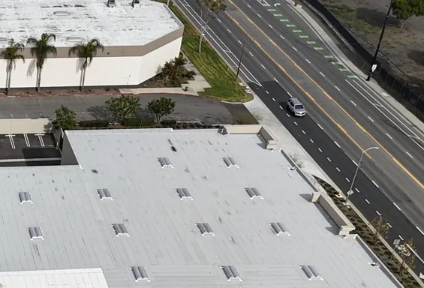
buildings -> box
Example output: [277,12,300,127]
[0,0,190,87]
[0,126,404,288]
